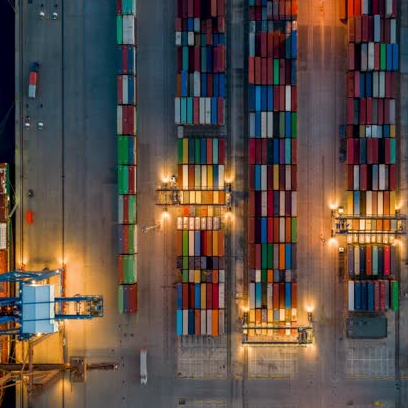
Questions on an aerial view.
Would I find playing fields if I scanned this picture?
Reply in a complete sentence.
No, there's no playing field here.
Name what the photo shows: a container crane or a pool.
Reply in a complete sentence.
Looking from above, you can make out a container crane.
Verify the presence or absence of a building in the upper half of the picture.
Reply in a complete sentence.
No, no building is visible in the upper half of the picture.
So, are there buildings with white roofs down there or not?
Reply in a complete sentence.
No, there's no building with a white roof here.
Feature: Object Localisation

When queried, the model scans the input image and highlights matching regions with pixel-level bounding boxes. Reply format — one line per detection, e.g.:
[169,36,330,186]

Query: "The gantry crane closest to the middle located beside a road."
[156,182,232,211]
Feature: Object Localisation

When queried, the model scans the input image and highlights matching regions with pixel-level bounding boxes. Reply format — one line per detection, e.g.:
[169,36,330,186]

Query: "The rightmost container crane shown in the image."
[331,210,407,238]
